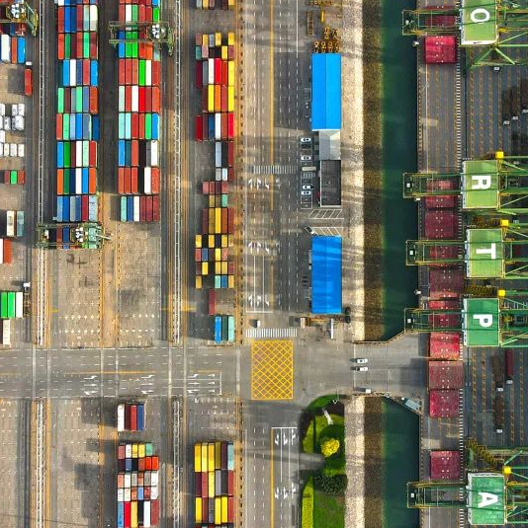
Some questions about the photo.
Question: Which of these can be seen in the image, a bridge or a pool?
bridge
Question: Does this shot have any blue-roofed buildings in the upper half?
Yes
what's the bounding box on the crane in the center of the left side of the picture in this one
[39,222,117,250]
